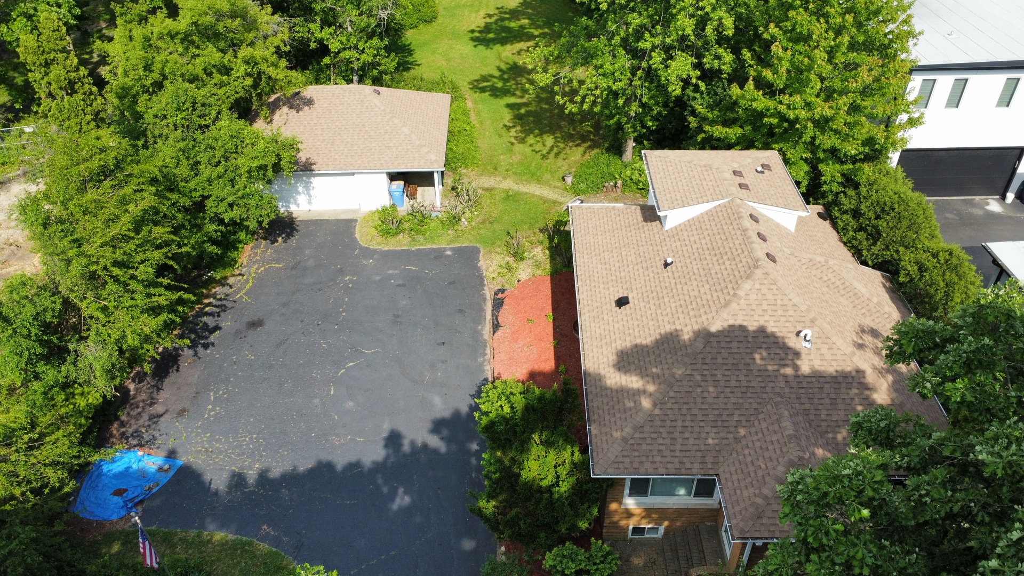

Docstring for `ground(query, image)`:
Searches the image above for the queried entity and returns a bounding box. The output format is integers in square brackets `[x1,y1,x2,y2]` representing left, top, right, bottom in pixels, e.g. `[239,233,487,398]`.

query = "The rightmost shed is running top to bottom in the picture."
[981,244,1024,339]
